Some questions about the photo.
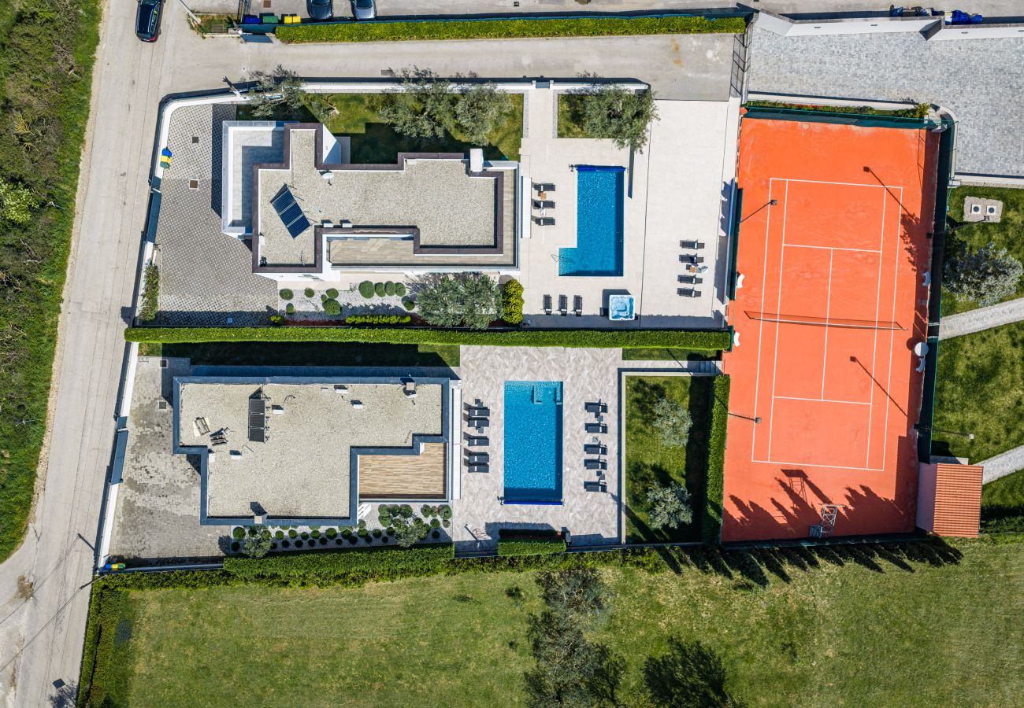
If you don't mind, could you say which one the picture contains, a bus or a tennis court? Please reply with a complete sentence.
Visible in the photo is a tennis court.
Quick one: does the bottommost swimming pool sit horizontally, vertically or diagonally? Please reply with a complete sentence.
From this overhead view, the bottommost swimming pool appears to run vertically.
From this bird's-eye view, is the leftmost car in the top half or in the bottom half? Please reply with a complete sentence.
You can find the leftmost car in the top half.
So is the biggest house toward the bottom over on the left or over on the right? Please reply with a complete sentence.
It is on the left.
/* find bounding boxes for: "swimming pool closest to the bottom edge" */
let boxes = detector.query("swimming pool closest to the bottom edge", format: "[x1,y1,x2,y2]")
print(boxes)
[501,378,566,508]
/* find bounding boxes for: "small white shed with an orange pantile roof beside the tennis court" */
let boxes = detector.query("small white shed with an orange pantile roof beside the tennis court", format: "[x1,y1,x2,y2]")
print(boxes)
[917,462,983,538]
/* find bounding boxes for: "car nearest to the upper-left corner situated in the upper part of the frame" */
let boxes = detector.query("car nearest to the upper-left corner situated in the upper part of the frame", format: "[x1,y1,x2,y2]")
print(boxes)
[135,0,167,44]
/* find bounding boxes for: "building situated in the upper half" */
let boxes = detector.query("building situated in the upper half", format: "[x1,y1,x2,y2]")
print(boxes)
[223,121,532,281]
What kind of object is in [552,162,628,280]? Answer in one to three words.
swimming pool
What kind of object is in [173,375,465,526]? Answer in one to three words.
house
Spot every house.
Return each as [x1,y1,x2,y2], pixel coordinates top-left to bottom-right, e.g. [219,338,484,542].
[223,121,532,281]
[173,375,465,526]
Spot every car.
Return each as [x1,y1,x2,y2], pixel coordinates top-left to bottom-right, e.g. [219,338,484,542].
[135,0,167,44]
[352,0,375,19]
[308,0,332,19]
